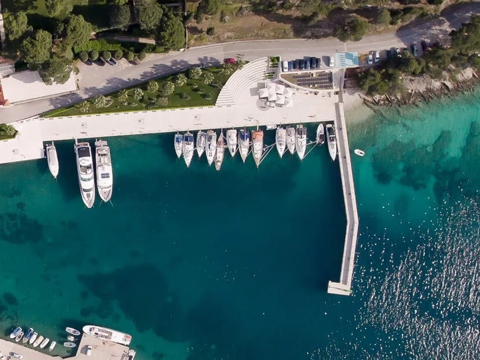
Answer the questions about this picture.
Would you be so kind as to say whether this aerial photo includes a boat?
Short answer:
Yes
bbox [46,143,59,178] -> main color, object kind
white boat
